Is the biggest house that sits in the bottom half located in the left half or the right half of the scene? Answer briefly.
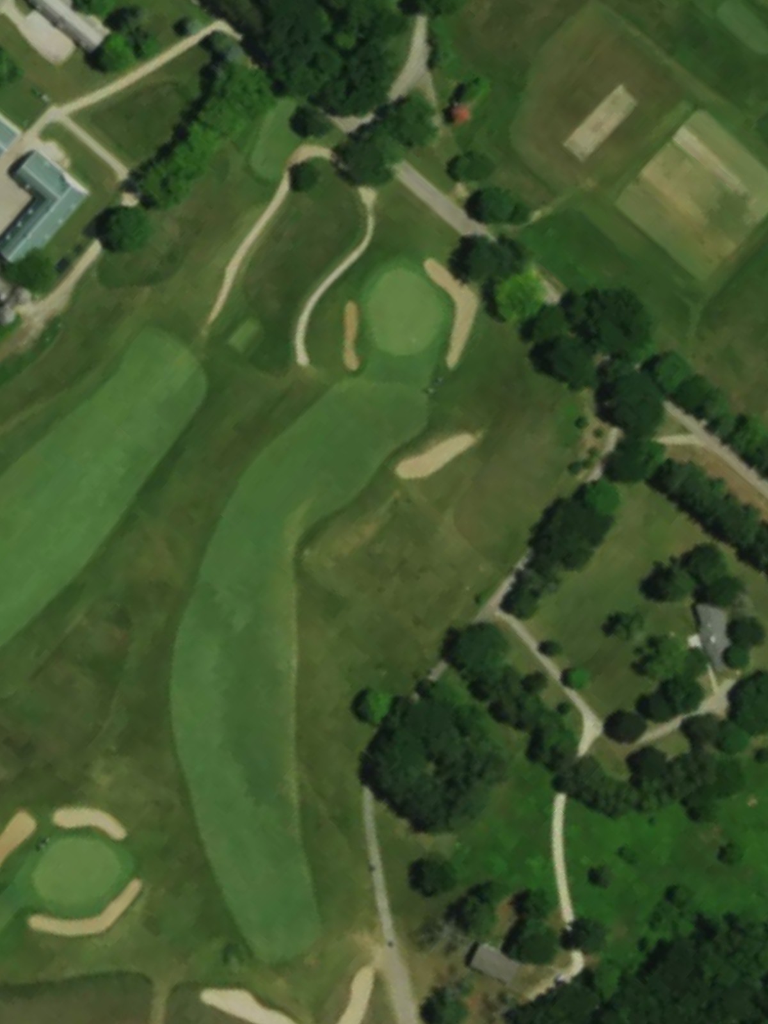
right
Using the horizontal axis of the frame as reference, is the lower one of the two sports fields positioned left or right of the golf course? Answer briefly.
to its right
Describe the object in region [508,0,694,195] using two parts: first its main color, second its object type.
green sports field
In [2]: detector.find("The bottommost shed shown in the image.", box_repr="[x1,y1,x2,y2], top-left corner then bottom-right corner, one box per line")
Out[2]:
[470,945,521,985]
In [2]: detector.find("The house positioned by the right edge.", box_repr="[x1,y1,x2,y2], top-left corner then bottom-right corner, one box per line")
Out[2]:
[687,605,732,672]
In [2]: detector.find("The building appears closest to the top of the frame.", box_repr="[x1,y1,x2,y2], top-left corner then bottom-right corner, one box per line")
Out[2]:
[23,0,106,56]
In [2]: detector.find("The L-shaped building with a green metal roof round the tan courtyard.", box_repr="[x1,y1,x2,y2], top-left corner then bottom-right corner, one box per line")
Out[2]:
[0,150,84,262]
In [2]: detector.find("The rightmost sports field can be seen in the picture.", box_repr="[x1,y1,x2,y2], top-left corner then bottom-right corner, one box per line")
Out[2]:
[614,107,768,282]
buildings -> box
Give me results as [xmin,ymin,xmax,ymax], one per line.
[470,945,521,985]
[23,0,106,56]
[0,114,21,155]
[0,150,84,262]
[687,605,732,672]
[453,104,471,122]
